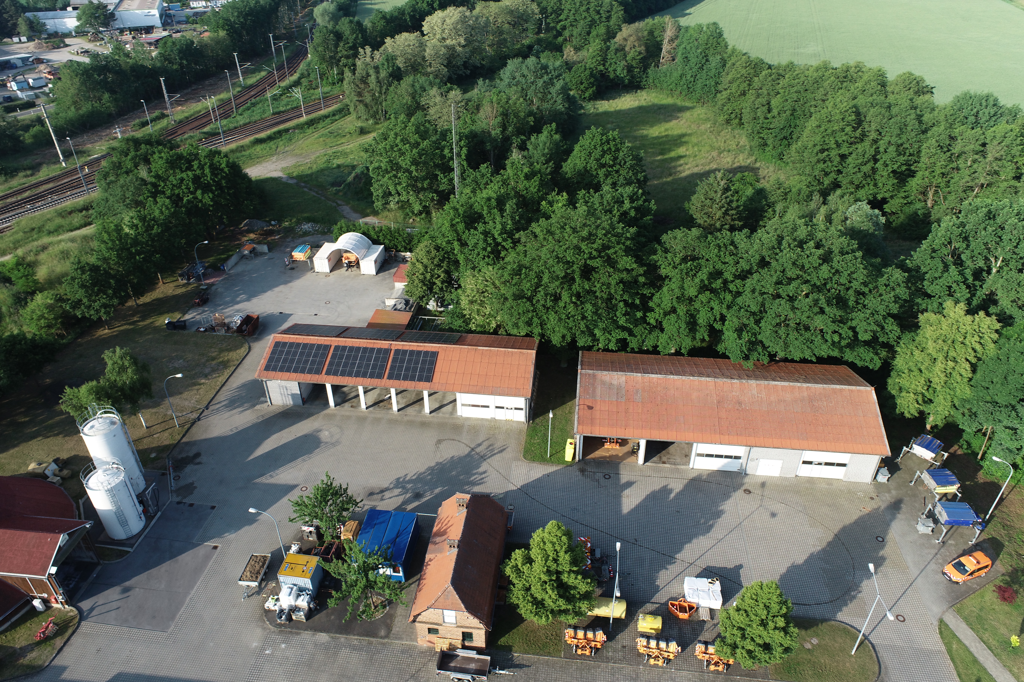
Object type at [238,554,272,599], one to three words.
trailer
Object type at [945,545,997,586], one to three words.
van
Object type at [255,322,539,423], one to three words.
building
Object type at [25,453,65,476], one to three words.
water tank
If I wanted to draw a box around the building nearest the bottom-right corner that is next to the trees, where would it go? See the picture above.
[574,349,894,485]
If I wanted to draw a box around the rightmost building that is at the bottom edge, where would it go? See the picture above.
[407,491,511,652]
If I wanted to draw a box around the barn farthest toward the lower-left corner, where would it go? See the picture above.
[0,473,103,630]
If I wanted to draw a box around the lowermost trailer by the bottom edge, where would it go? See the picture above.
[436,648,506,682]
